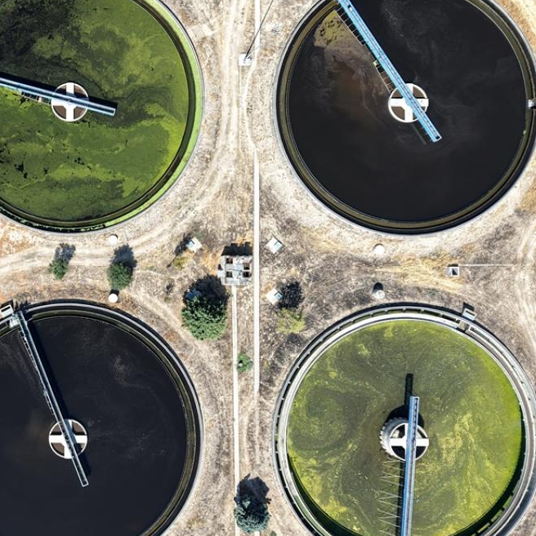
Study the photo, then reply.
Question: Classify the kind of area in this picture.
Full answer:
It's an industrial area.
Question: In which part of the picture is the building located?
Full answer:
The building appears toward the center of the photo.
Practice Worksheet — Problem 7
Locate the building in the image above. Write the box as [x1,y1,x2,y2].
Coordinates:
[212,254,251,284]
